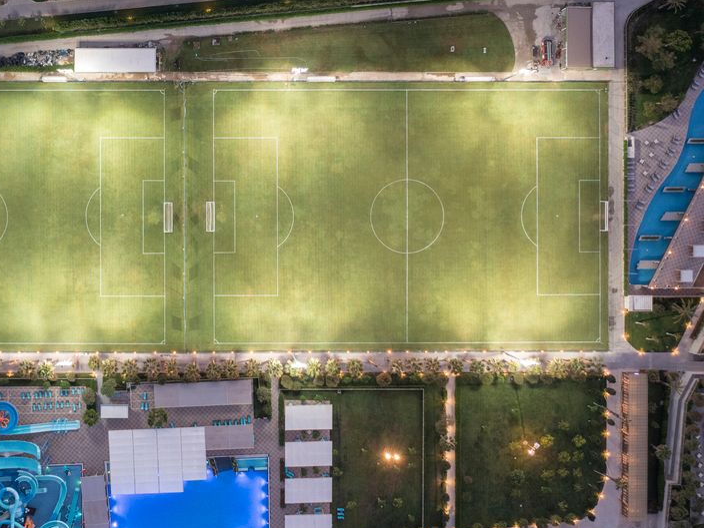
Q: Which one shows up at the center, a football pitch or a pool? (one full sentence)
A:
The one visible at the center is a football pitch.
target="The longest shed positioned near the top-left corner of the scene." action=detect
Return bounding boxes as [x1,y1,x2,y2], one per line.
[74,48,156,74]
